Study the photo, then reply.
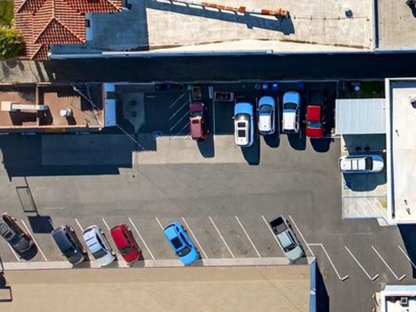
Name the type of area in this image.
parking lot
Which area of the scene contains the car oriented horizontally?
right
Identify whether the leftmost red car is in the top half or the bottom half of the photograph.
bottom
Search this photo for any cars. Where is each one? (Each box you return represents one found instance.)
[186,102,210,140]
[280,91,301,133]
[51,224,87,266]
[304,103,325,138]
[80,224,117,267]
[231,103,254,147]
[0,212,35,260]
[255,96,277,135]
[164,221,199,264]
[109,223,143,265]
[339,153,384,175]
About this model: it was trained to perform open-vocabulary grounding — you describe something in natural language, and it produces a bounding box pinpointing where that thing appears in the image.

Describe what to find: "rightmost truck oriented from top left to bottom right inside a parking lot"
[268,214,306,262]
